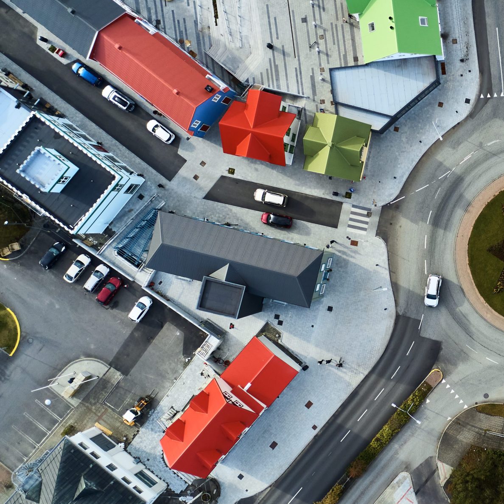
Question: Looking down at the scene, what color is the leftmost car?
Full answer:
In this view, the leftmost car is black.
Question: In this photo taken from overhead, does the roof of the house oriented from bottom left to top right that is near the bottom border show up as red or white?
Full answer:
The roof of the house oriented from bottom left to top right that is near the bottom border is red.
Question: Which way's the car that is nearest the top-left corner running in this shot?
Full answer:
I'd say the car that is nearest the top-left corner is aligned diagonally in the picture.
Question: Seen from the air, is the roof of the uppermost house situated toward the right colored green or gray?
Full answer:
The roof of the uppermost house situated toward the right looks green in the image.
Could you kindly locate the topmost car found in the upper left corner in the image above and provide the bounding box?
[74,63,102,86]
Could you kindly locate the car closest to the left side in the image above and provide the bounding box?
[40,242,67,270]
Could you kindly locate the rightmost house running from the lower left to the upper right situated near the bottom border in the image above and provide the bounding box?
[160,336,300,494]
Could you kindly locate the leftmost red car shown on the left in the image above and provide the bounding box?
[97,278,122,306]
